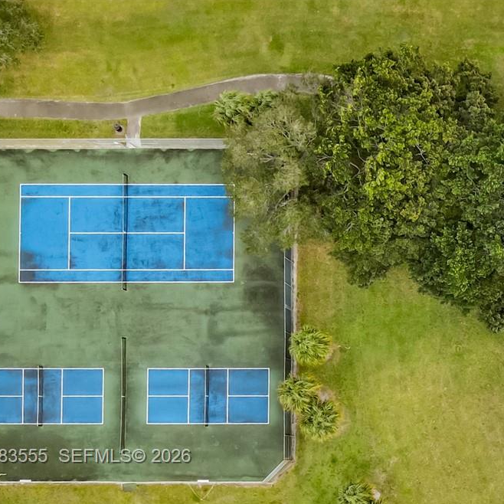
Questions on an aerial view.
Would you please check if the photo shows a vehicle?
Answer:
No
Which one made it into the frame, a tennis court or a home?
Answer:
tennis court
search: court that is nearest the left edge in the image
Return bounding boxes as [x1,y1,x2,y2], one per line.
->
[0,369,103,424]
